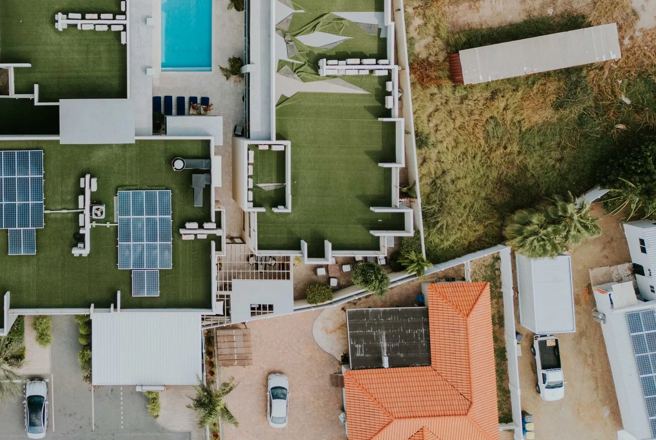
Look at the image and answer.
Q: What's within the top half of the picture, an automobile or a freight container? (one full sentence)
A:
The one visible within the top half of the picture is a freight container.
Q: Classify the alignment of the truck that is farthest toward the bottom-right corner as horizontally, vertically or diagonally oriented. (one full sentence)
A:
What the image shows is the truck that is farthest toward the bottom-right corner lying vertically.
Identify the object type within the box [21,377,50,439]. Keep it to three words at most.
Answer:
car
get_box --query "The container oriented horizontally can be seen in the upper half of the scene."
[447,23,623,87]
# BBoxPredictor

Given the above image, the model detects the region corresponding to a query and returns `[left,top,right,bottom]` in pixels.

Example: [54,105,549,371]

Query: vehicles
[532,334,568,399]
[266,371,291,427]
[21,377,50,439]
